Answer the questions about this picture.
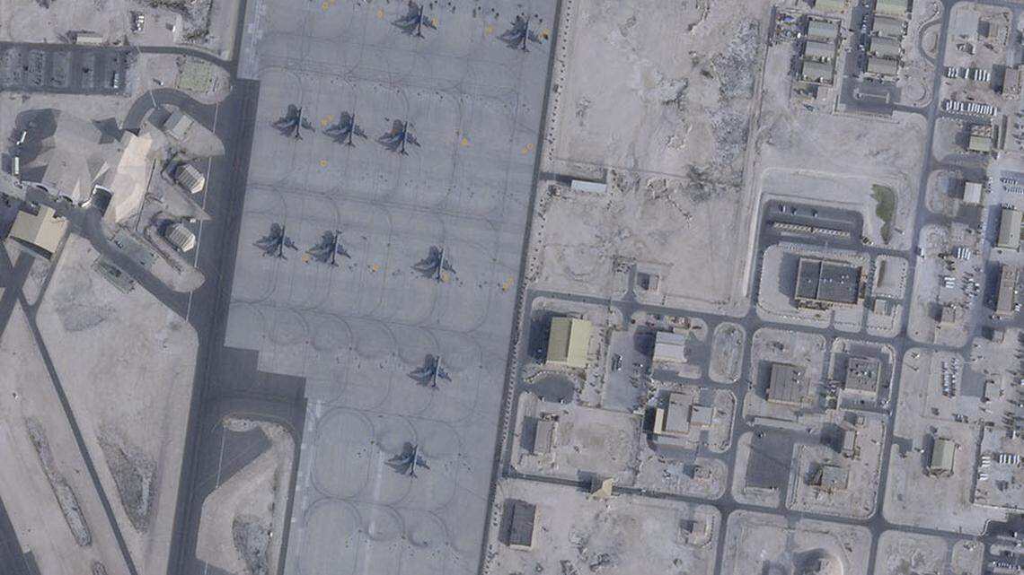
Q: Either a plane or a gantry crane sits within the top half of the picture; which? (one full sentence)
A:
There is a plane within the top half of the picture.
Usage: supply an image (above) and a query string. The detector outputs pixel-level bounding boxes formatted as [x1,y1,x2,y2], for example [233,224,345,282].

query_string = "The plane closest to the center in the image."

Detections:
[422,249,456,280]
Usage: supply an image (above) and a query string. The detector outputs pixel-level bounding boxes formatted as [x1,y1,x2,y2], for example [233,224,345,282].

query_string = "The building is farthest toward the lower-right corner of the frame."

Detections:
[930,437,955,472]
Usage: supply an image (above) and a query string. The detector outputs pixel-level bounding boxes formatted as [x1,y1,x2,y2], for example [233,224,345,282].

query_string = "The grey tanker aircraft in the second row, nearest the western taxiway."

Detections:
[281,107,315,138]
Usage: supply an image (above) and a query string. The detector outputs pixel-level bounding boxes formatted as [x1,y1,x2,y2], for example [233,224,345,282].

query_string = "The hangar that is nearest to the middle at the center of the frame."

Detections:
[546,316,591,370]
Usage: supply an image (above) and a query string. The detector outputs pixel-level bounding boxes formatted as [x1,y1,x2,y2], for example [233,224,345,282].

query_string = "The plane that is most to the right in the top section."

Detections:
[509,17,543,48]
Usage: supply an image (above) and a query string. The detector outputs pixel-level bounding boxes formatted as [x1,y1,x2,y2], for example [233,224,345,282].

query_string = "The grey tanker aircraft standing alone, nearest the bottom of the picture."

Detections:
[396,445,431,477]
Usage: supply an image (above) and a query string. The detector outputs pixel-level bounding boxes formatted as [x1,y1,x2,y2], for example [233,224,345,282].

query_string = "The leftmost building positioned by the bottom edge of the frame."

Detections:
[509,504,536,547]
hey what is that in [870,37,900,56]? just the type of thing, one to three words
shed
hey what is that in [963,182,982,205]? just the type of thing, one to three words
building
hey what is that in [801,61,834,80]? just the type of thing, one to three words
shed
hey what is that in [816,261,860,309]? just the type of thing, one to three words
building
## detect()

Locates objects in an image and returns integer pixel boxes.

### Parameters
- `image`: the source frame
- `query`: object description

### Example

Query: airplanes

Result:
[396,445,431,477]
[509,17,543,48]
[418,356,452,388]
[387,123,421,153]
[334,113,368,144]
[317,233,352,264]
[422,249,456,280]
[403,6,437,36]
[281,107,315,138]
[264,226,298,257]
